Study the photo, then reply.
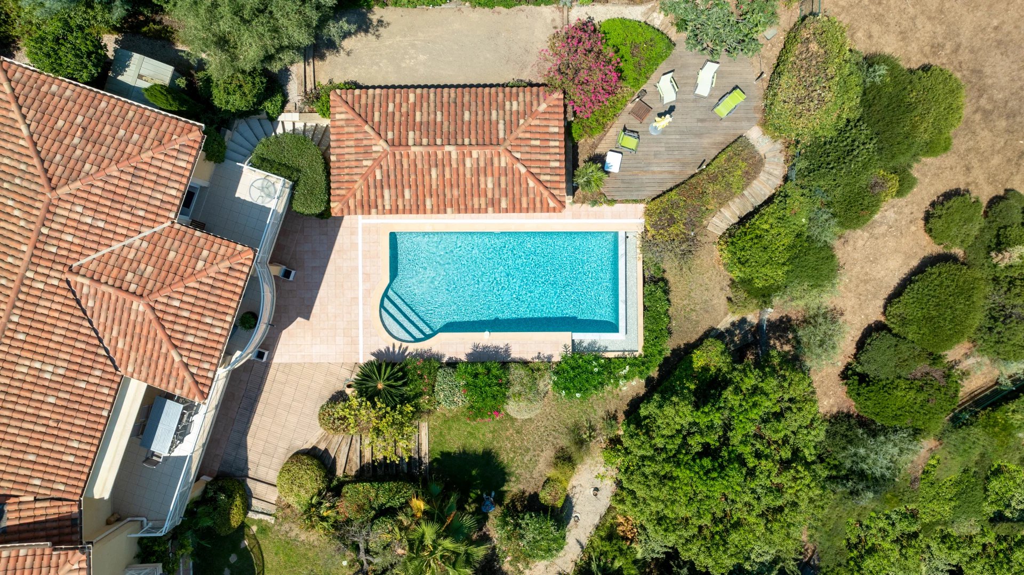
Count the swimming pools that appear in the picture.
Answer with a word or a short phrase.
1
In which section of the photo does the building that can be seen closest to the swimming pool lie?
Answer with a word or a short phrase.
top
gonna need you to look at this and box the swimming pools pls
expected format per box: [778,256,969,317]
[370,223,644,354]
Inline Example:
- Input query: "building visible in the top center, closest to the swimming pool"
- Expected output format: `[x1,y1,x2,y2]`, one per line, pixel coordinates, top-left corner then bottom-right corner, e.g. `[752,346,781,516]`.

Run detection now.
[328,85,568,217]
